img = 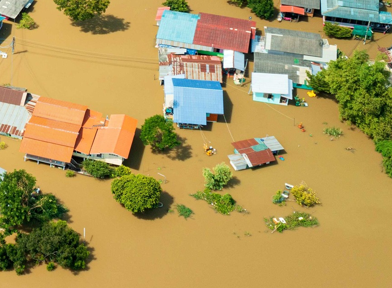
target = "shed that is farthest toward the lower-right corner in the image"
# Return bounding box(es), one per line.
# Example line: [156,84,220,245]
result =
[228,137,284,170]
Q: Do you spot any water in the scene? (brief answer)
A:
Yes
